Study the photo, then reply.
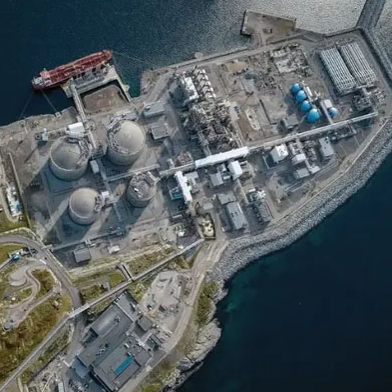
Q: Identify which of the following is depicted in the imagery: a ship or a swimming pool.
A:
ship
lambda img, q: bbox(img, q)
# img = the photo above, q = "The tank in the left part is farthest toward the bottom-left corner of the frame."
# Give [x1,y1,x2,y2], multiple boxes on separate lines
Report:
[66,187,105,223]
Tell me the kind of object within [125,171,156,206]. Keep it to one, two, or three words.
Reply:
storage tank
